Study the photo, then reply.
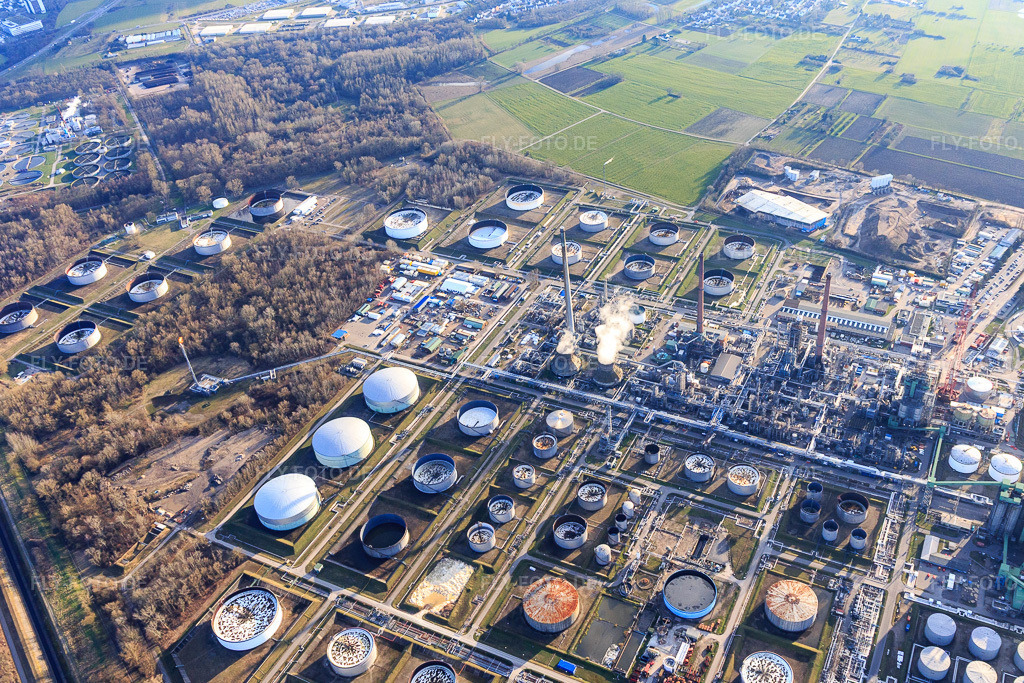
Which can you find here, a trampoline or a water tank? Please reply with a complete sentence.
I can see a water tank in this picture.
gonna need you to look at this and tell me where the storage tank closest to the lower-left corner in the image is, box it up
[210,586,282,651]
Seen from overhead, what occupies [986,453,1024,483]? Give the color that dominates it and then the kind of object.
white storage tank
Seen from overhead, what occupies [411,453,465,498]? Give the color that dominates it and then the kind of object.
blue storage tank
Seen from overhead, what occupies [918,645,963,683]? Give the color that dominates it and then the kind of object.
white storage tank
